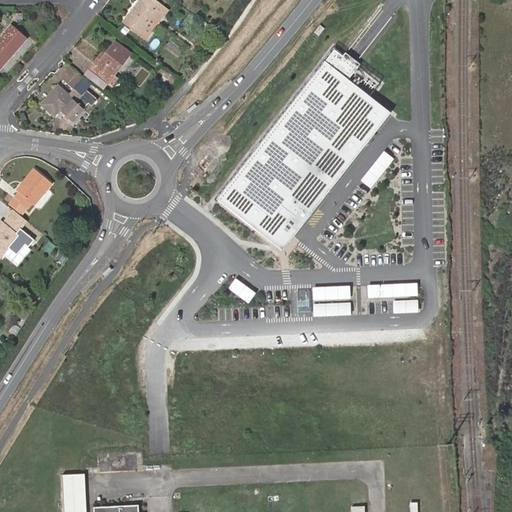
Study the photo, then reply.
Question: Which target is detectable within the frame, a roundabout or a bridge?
roundabout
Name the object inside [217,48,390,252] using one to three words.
building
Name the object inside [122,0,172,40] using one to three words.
house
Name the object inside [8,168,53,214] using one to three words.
house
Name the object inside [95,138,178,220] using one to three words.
roundabout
